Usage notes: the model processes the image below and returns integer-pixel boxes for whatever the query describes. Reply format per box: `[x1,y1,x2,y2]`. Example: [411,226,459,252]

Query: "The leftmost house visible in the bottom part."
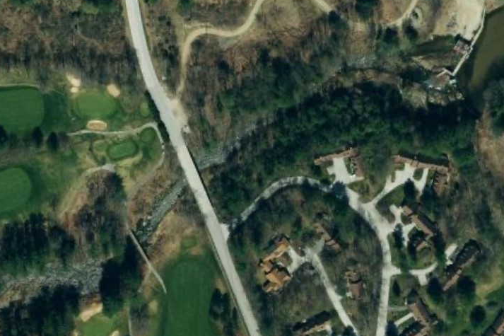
[261,237,294,294]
